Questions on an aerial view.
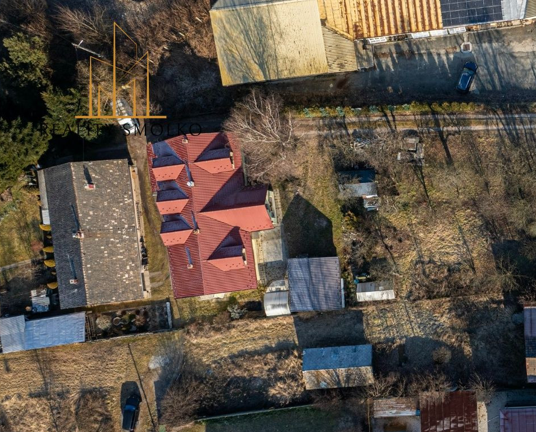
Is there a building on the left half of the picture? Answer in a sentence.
Yes, a building shows up on the left half of the picture.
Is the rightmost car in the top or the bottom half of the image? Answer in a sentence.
Seen from above, the rightmost car lies in the top half of the view.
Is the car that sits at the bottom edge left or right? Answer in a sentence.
The car that sits at the bottom edge is on the left side of the image.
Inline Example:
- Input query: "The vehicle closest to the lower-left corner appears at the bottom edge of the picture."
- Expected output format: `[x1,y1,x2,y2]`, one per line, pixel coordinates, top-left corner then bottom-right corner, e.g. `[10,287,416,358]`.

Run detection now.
[121,394,144,430]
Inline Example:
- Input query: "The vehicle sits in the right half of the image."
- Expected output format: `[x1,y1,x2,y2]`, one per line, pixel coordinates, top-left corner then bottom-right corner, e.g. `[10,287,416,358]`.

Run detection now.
[455,61,479,96]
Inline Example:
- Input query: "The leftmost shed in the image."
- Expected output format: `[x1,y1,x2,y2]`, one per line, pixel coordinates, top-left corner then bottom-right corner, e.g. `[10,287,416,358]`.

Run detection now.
[0,312,94,352]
